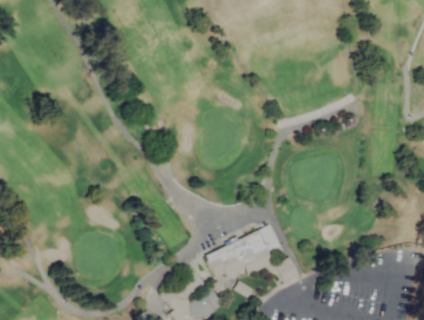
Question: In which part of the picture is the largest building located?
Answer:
bottom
